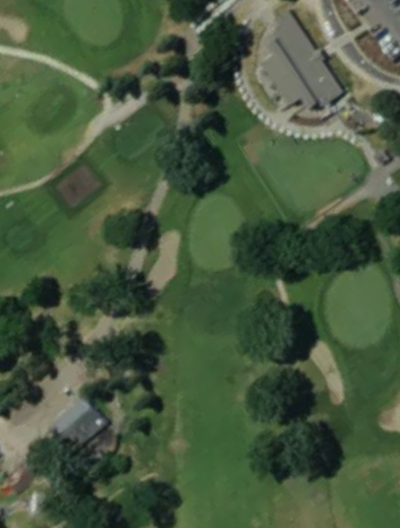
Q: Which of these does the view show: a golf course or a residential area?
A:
golf course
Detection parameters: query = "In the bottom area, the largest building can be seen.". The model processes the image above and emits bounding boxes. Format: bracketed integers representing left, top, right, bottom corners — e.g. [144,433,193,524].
[53,400,110,444]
